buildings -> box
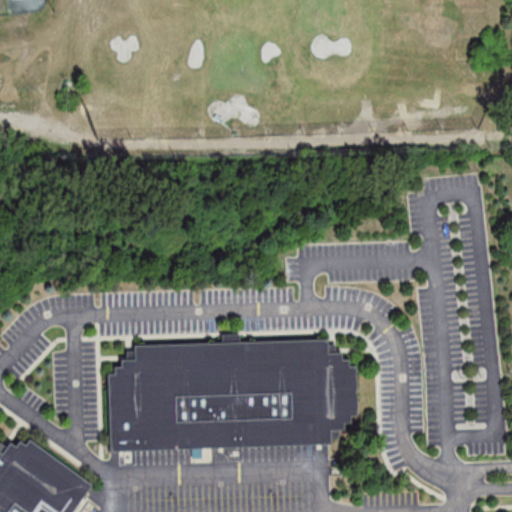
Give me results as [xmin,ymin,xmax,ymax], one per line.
[0,442,94,512]
[108,334,358,453]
